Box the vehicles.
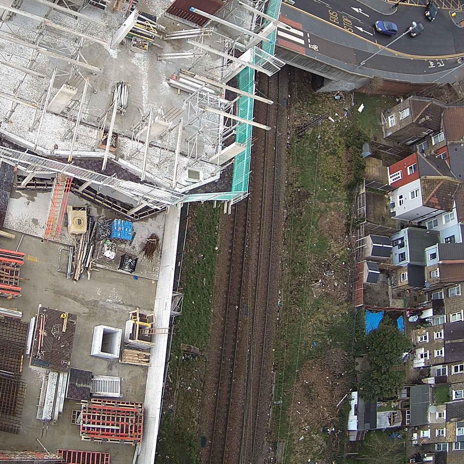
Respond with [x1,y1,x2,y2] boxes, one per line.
[379,20,400,34]
[426,0,438,18]
[411,23,428,36]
